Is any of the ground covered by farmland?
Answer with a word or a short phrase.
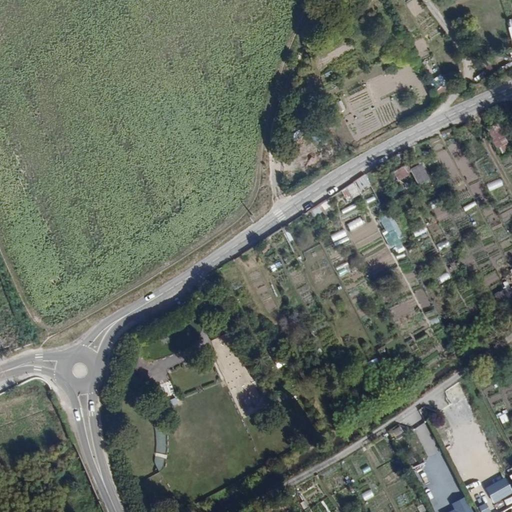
Yes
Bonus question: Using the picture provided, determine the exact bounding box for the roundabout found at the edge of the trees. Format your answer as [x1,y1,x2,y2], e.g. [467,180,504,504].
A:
[58,348,102,391]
